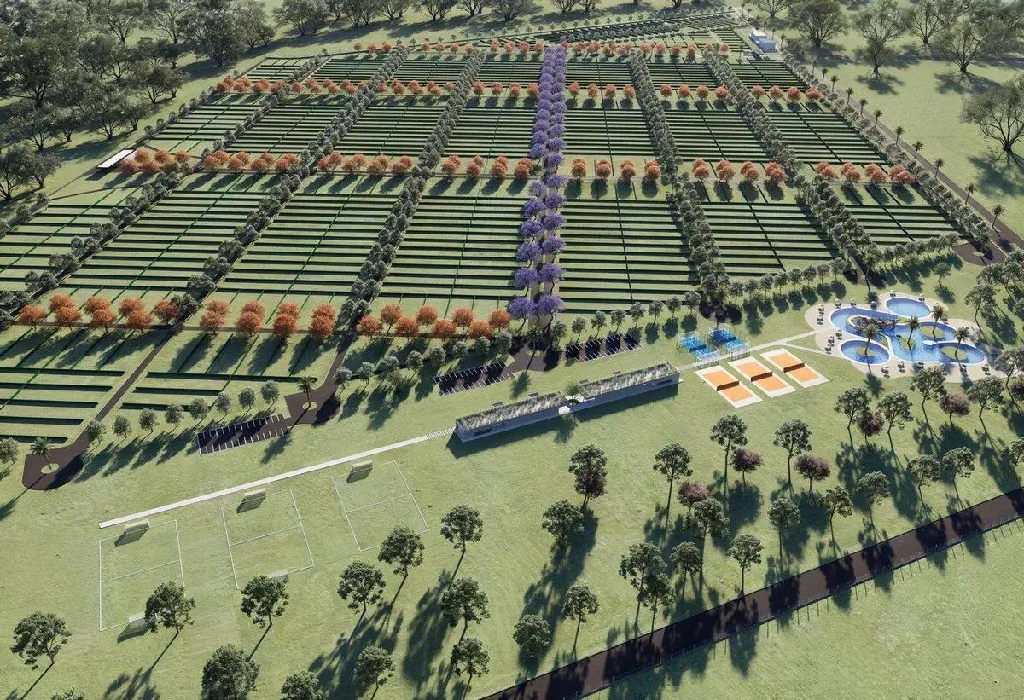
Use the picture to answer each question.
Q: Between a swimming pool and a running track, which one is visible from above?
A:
swimming pool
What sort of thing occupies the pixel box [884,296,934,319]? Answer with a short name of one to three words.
swimming pool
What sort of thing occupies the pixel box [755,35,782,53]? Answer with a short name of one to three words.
building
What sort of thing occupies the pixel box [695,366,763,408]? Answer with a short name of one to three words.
sports court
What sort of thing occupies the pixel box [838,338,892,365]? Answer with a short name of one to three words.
swimming pool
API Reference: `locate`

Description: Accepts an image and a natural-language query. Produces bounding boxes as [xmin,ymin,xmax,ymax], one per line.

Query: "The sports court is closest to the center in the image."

[674,335,718,368]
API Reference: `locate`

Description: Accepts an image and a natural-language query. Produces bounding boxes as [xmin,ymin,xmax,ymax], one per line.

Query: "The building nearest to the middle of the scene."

[454,364,682,444]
